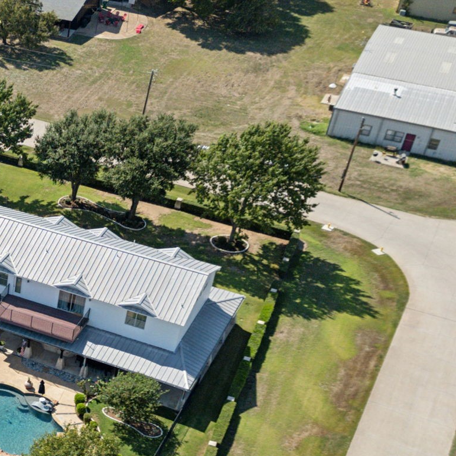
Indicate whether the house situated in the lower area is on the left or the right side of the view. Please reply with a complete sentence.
The house situated in the lower area is on the left side of the image.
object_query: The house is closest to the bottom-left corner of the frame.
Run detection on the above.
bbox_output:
[0,209,241,406]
